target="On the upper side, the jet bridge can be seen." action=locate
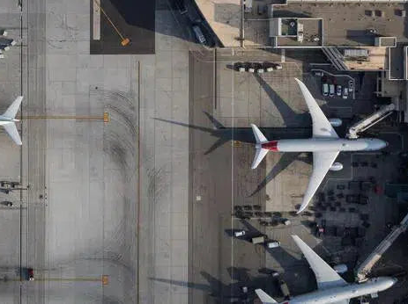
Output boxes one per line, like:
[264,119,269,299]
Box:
[344,102,399,141]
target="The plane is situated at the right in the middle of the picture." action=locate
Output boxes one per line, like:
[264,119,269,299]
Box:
[249,78,388,214]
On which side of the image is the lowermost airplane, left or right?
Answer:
right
